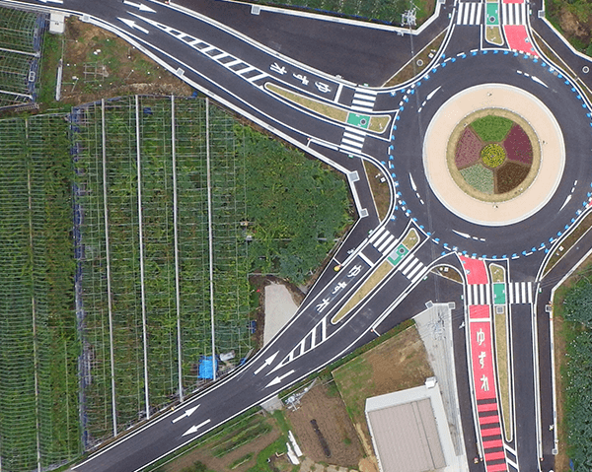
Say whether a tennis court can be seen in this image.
No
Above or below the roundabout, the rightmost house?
below it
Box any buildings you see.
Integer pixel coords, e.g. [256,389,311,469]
[49,10,69,34]
[367,376,460,472]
